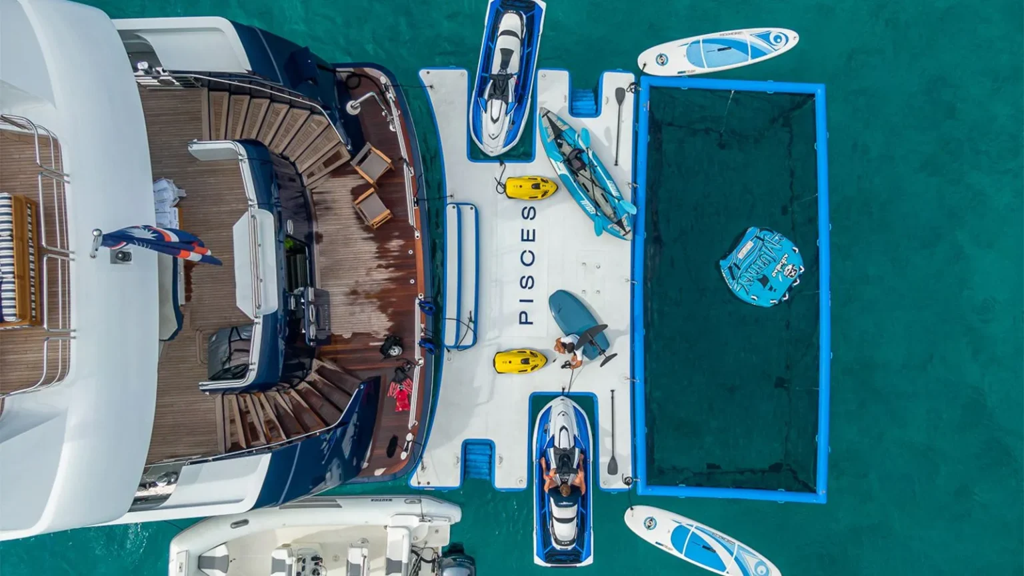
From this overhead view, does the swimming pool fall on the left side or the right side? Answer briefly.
right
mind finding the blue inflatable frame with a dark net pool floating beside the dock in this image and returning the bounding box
[634,74,832,504]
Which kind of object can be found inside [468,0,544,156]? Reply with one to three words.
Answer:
boat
